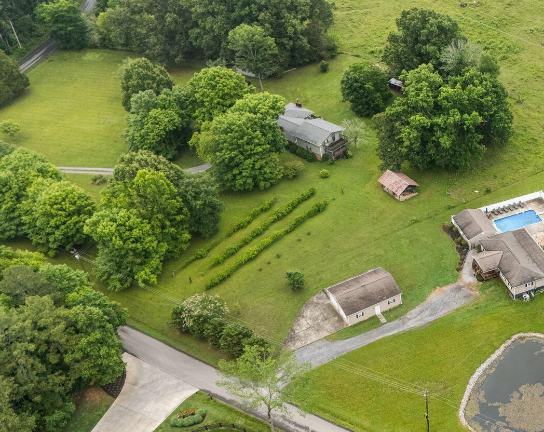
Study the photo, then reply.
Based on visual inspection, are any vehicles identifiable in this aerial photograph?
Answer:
No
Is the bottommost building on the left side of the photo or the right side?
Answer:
right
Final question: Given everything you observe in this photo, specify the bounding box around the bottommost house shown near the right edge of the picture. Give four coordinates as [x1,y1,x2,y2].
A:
[471,230,544,298]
